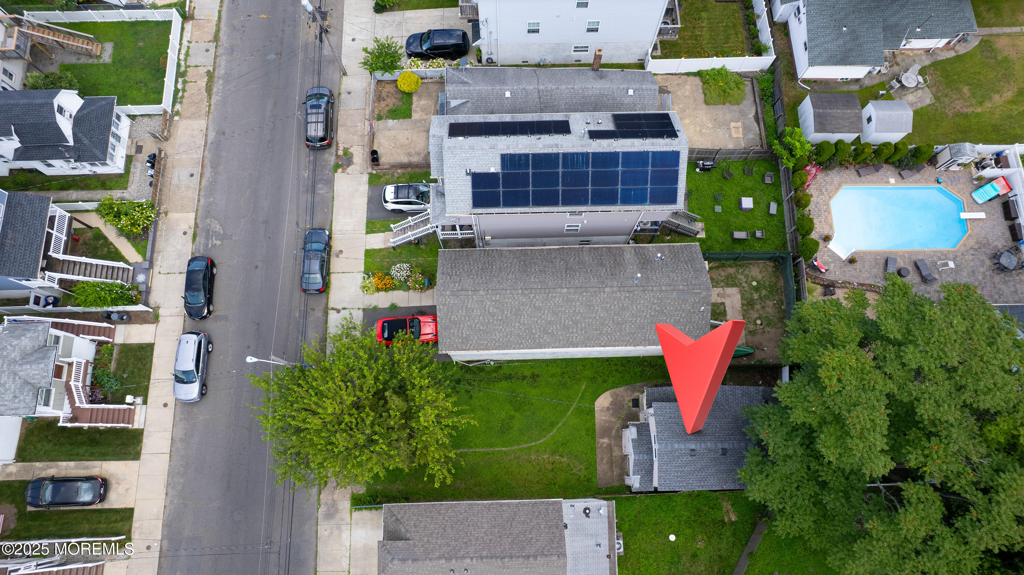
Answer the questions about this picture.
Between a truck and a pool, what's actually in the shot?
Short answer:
pool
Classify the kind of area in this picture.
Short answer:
residential area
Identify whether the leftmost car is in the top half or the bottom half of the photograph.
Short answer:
bottom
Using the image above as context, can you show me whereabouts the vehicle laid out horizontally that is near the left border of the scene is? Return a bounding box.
[27,472,110,512]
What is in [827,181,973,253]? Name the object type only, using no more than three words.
swimming pool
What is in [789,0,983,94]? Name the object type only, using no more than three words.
house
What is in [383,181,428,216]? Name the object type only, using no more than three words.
car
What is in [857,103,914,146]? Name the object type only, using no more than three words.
shed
